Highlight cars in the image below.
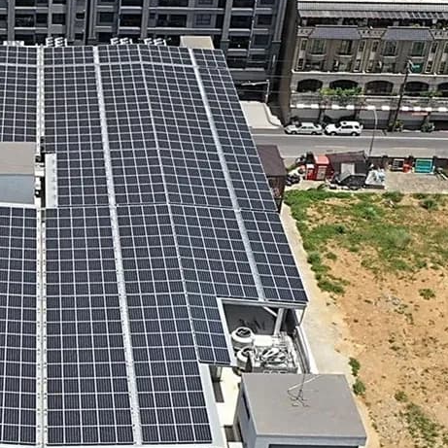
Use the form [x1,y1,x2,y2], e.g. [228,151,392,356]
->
[325,118,362,135]
[285,119,324,134]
